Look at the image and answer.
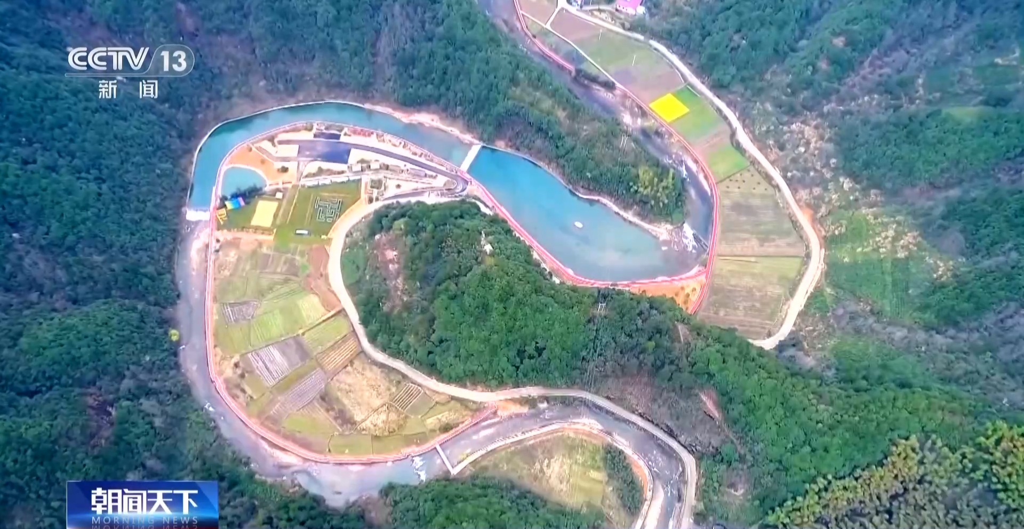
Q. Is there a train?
No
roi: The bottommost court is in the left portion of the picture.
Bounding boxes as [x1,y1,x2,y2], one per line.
[251,200,279,227]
